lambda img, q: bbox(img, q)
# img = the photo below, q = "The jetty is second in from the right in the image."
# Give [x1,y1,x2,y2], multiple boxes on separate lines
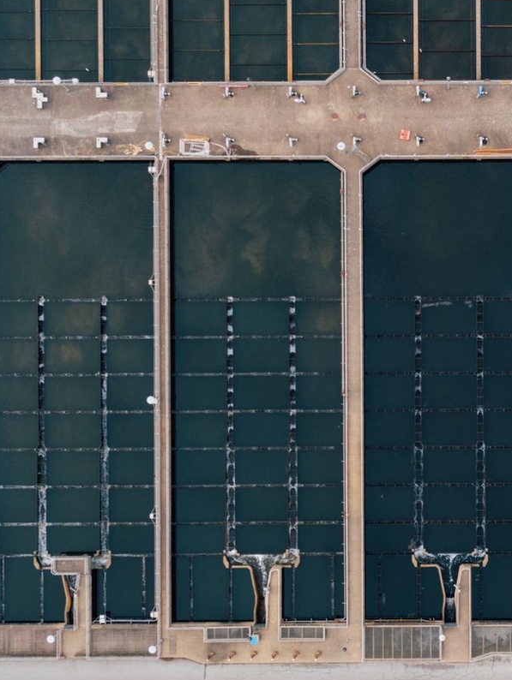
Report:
[267,566,284,627]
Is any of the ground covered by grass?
No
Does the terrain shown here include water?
Yes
